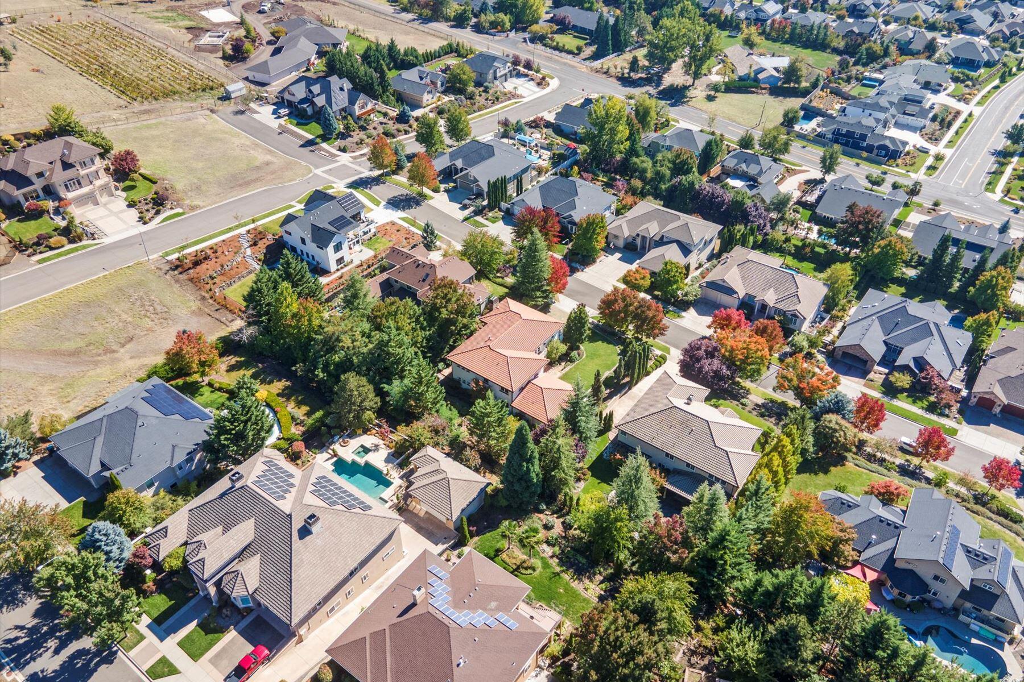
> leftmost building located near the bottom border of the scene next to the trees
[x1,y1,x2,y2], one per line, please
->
[144,448,405,652]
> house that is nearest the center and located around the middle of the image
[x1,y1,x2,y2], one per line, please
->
[445,296,576,433]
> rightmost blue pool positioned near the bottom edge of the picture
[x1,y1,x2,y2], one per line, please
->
[919,621,1011,682]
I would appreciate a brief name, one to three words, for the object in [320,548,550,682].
house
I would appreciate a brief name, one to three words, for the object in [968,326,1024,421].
house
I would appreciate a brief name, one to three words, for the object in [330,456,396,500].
swimming pool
